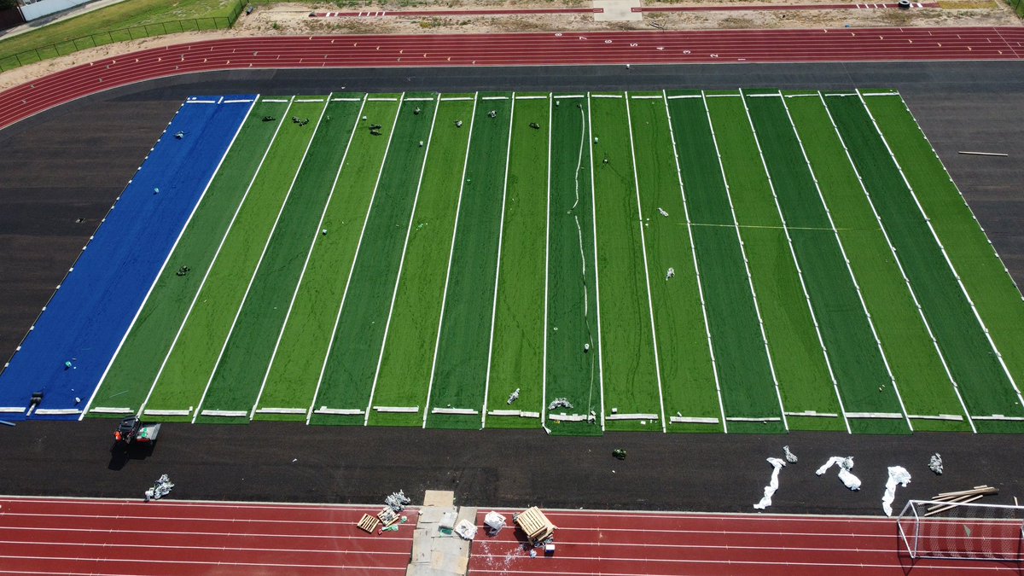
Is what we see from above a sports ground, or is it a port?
sports ground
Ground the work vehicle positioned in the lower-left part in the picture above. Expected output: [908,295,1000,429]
[113,415,165,446]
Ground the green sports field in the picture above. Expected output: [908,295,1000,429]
[0,87,1024,436]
